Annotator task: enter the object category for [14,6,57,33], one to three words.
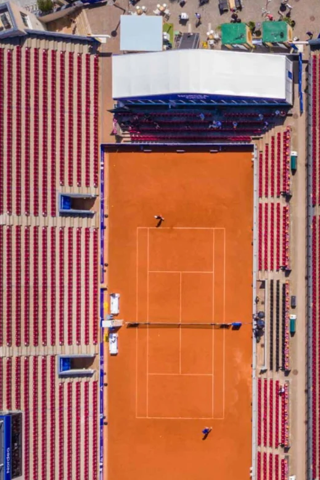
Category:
house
